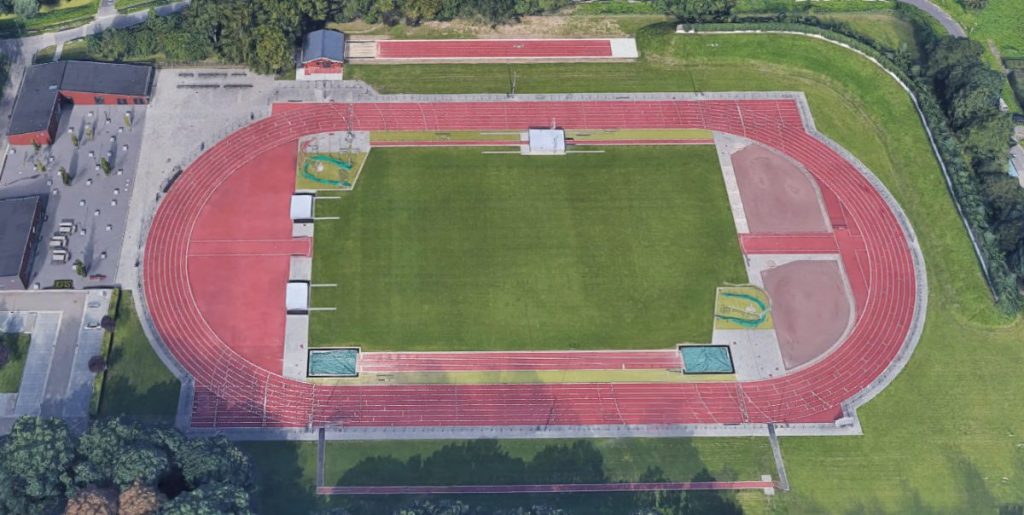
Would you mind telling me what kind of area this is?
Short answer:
sports ground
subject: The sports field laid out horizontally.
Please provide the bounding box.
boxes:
[296,142,749,352]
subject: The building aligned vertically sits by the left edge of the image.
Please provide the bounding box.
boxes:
[0,193,45,287]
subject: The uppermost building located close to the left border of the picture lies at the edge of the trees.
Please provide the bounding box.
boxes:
[6,59,155,145]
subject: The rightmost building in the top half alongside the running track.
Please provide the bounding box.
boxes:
[298,30,347,76]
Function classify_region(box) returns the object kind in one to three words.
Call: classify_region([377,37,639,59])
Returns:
runway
